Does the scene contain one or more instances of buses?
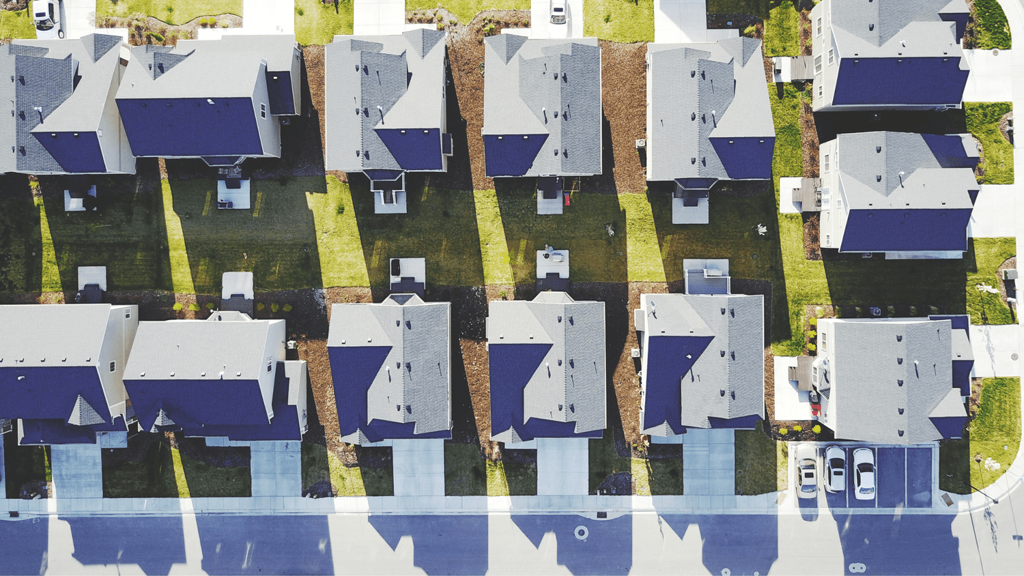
No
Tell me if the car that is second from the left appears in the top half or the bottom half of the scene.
top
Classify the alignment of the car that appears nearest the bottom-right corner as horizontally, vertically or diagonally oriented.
vertically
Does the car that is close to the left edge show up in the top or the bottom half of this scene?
top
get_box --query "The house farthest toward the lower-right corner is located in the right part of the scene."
[812,314,974,446]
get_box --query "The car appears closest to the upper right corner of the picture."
[546,0,571,38]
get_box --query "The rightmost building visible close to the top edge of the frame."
[812,0,970,111]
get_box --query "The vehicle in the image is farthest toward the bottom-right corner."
[853,448,879,500]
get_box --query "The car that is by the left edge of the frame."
[32,0,61,37]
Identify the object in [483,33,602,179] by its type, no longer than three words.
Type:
house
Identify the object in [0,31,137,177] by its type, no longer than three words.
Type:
house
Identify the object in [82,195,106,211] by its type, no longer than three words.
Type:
umbrella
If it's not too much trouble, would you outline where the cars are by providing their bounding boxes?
[853,448,879,500]
[546,0,571,38]
[796,445,822,498]
[825,446,850,493]
[32,0,61,37]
